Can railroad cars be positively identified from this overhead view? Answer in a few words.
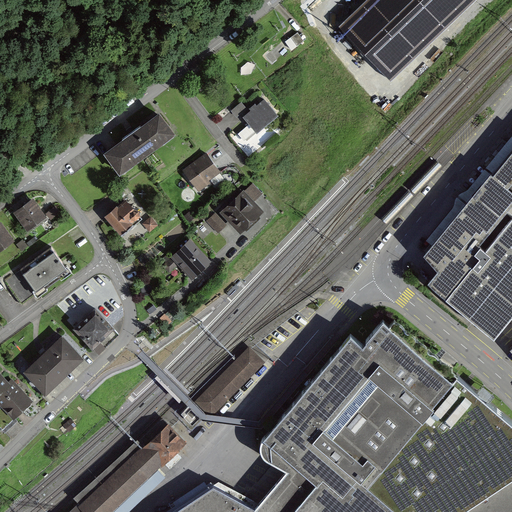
Yes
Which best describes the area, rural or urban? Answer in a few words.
urban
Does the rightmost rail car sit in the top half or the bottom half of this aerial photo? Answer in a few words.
top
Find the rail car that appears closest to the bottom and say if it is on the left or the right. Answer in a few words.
right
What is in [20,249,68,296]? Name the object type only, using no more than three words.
building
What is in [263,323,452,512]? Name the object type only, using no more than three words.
building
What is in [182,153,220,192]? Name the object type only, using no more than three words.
house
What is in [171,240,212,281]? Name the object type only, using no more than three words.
house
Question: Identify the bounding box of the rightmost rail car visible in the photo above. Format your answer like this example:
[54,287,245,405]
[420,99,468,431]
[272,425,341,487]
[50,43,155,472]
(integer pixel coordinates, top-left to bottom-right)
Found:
[410,160,442,194]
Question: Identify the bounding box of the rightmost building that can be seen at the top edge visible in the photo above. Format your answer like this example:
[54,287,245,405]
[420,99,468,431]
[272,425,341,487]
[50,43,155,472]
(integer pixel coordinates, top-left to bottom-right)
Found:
[338,0,477,81]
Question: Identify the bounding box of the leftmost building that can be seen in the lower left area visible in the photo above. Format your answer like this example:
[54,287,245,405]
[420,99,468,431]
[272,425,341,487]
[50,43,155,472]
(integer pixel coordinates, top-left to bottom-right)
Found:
[0,374,32,419]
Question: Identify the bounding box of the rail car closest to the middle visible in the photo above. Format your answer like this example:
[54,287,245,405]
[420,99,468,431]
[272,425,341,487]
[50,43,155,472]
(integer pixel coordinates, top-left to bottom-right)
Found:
[381,190,414,224]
